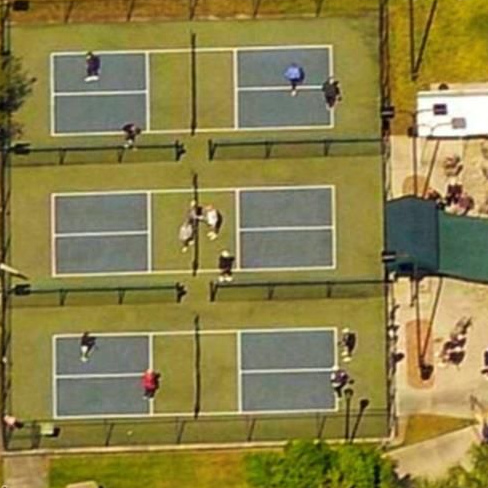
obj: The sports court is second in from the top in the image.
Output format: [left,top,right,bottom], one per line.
[4,154,388,306]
